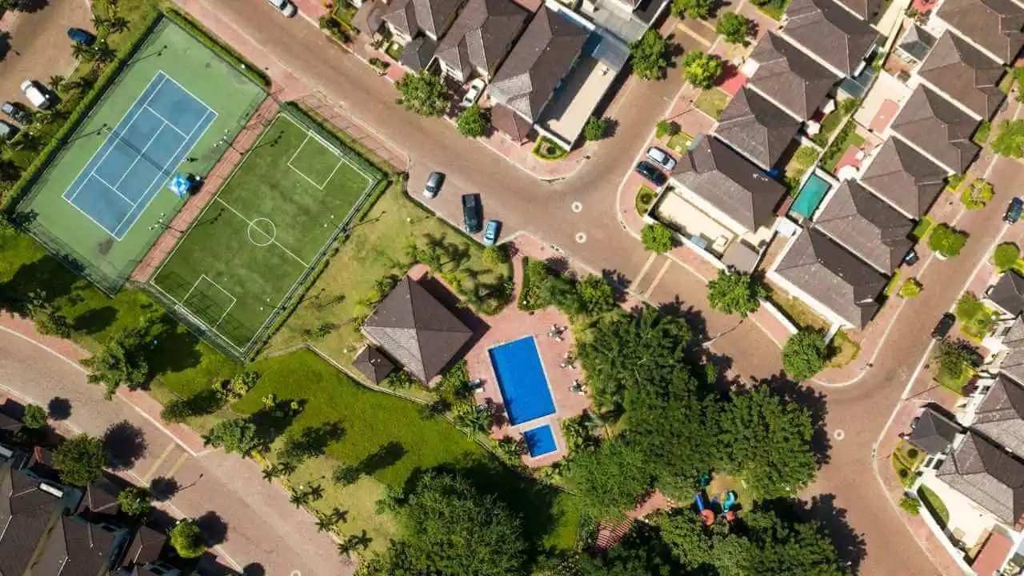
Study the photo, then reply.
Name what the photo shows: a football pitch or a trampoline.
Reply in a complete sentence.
The one in the frame is a football pitch.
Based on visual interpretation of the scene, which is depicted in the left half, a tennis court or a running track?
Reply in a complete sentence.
There is a tennis court in the left half.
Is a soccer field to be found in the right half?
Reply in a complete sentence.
No, there's no soccer field to be seen in the right half.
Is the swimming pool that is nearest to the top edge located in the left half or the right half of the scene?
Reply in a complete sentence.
You can find the swimming pool that is nearest to the top edge on the right side of the picture.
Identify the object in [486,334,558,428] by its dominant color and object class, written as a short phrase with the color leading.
blue swimming pool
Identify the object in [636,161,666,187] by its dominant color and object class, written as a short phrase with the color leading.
black car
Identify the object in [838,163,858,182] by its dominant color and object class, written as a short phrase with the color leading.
white umbrella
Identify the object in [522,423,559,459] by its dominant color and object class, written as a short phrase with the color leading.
blue swimming pool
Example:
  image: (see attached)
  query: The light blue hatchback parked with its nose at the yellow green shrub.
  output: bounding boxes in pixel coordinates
[483,219,499,246]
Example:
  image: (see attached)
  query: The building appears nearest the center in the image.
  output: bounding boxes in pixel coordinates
[360,276,472,384]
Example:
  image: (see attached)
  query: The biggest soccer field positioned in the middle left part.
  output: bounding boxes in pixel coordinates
[144,106,384,356]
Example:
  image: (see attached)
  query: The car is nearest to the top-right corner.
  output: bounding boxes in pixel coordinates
[1001,195,1024,226]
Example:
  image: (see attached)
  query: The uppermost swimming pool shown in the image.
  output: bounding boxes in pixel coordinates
[790,172,833,219]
